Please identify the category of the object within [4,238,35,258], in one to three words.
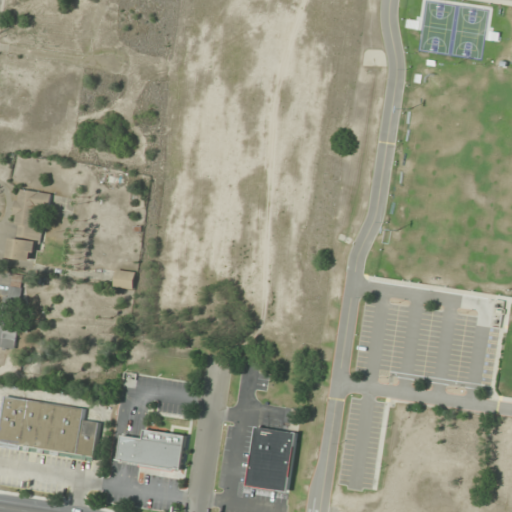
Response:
house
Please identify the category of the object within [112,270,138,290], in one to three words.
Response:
barn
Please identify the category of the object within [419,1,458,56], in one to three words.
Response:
basketball court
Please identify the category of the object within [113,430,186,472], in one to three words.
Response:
building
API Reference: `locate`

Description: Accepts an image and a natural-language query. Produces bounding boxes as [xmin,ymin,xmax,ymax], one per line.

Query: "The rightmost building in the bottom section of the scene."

[244,427,297,490]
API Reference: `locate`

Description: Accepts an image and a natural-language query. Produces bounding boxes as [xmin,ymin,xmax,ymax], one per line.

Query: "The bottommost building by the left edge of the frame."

[0,396,102,460]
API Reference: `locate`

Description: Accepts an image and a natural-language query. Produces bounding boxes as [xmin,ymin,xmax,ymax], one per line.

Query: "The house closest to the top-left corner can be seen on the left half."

[11,188,54,242]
